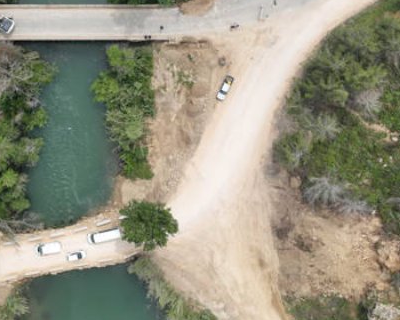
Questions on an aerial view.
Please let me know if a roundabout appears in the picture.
No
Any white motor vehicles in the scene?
Yes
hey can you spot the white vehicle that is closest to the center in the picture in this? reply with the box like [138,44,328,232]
[216,75,234,101]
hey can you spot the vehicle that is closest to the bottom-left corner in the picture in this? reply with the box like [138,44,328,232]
[37,242,62,254]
